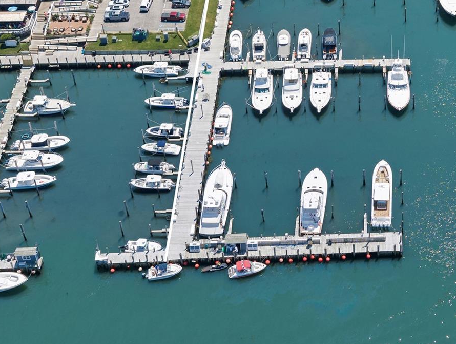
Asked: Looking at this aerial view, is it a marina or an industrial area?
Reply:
marina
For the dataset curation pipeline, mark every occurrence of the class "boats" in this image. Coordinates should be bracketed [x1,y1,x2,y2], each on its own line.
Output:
[15,127,70,156]
[247,54,274,113]
[273,28,291,61]
[193,157,233,237]
[146,89,189,110]
[2,147,64,175]
[299,169,332,234]
[146,121,185,141]
[201,263,229,274]
[251,28,272,62]
[309,68,332,112]
[135,155,177,178]
[212,105,233,150]
[317,28,337,60]
[134,63,182,87]
[142,264,181,284]
[229,260,266,281]
[24,95,79,118]
[230,30,248,62]
[131,166,177,193]
[386,48,411,111]
[0,275,27,294]
[120,228,162,256]
[141,141,181,157]
[295,28,318,60]
[0,164,56,195]
[367,159,402,228]
[277,65,302,112]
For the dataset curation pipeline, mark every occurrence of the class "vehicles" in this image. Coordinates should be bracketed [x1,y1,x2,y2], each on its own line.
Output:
[170,0,192,8]
[103,10,130,22]
[161,11,186,23]
[105,3,126,13]
[137,0,155,11]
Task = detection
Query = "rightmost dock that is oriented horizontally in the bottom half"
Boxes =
[96,209,403,268]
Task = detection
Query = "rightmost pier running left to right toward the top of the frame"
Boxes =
[221,46,410,92]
